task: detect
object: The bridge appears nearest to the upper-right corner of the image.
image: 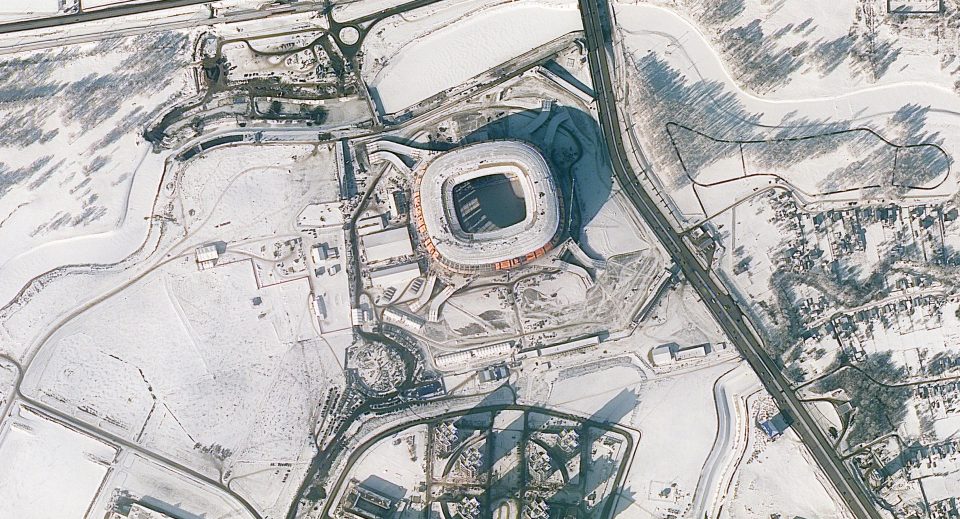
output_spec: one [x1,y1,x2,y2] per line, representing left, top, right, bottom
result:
[578,0,608,74]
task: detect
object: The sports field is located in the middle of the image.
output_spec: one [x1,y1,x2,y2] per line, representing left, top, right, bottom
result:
[452,183,527,235]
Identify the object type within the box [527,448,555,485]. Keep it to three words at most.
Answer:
building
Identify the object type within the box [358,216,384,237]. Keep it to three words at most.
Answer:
building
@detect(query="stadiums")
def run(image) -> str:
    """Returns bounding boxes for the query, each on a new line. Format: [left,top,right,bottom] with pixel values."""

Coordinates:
[409,139,562,284]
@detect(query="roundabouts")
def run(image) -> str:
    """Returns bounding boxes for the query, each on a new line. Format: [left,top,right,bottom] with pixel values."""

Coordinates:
[332,20,365,51]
